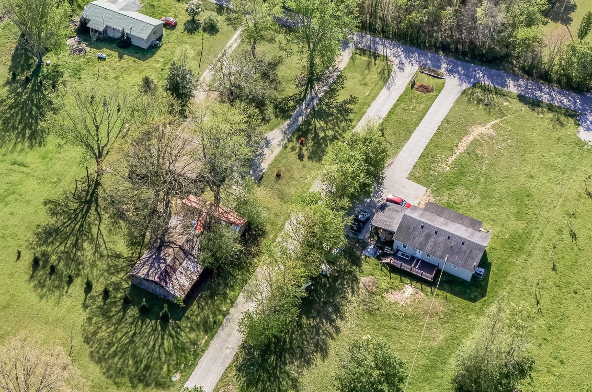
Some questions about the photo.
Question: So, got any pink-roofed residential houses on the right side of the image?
No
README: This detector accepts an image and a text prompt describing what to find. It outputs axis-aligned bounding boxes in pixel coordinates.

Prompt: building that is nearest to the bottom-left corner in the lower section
[128,217,226,309]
